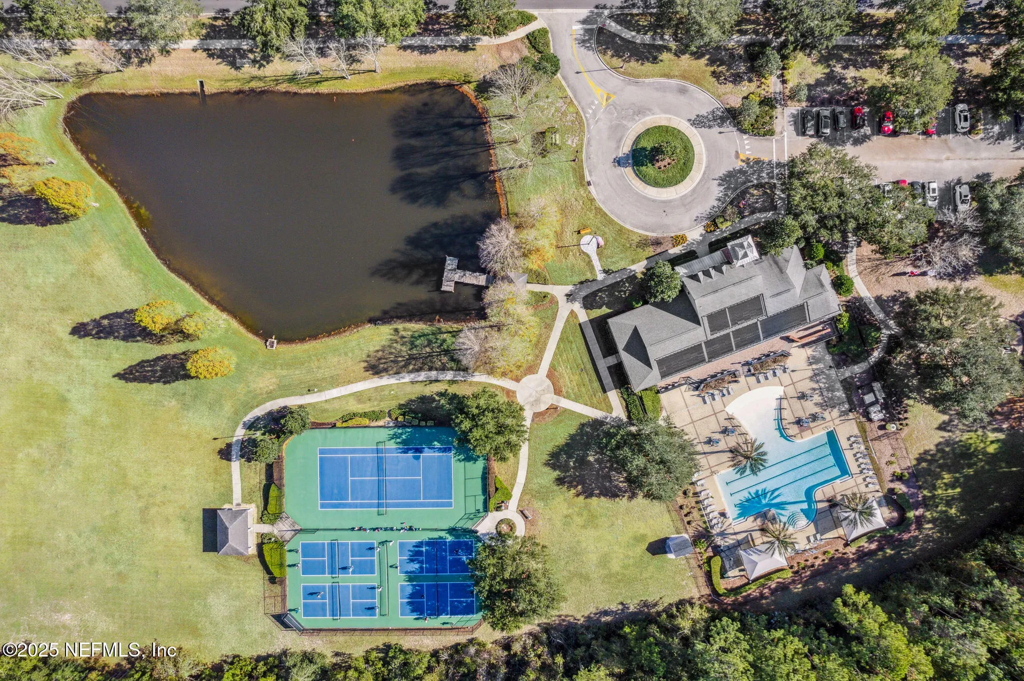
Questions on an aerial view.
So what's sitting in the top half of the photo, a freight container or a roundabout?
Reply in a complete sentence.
There is a roundabout in the top half of the photo.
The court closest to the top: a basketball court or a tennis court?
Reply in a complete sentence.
From above, the court closest to the top can be identified as a tennis court.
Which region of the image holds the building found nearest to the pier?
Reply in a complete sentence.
Look in the center portion of the view to spot the building found nearest to the pier.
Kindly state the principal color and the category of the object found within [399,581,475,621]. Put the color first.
blue sports court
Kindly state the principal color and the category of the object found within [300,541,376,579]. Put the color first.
blue sports court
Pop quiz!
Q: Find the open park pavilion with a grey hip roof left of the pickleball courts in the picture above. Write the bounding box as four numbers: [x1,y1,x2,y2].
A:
[218,507,253,556]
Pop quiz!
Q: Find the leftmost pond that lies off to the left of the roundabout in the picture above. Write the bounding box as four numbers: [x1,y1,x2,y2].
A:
[65,83,505,343]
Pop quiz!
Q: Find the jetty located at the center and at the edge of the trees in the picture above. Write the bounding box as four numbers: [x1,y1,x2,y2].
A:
[441,256,506,292]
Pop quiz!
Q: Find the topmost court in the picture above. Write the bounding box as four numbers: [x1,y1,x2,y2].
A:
[284,428,488,530]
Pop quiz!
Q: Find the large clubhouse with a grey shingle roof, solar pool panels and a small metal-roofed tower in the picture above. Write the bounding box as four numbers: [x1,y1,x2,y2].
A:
[607,235,843,391]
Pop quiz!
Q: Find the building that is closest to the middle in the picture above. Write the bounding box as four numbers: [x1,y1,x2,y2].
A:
[506,270,527,291]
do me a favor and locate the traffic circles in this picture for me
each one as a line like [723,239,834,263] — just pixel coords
[589,83,736,230]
